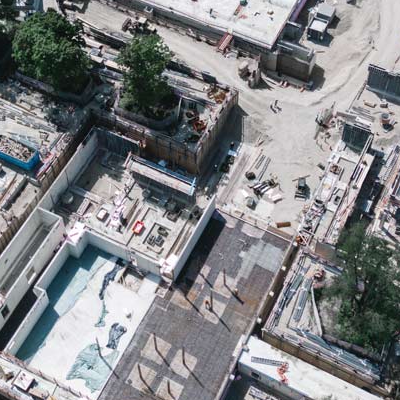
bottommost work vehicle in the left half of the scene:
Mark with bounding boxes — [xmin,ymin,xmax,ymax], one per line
[124,9,161,38]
